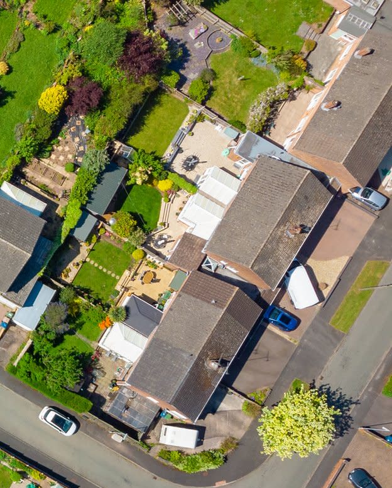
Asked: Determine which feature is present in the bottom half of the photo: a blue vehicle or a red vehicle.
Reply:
blue vehicle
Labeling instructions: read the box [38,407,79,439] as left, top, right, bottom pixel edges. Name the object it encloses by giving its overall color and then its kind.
white car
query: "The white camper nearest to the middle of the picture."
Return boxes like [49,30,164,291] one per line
[277,265,320,312]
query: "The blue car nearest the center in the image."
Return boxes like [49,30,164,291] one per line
[261,305,303,333]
